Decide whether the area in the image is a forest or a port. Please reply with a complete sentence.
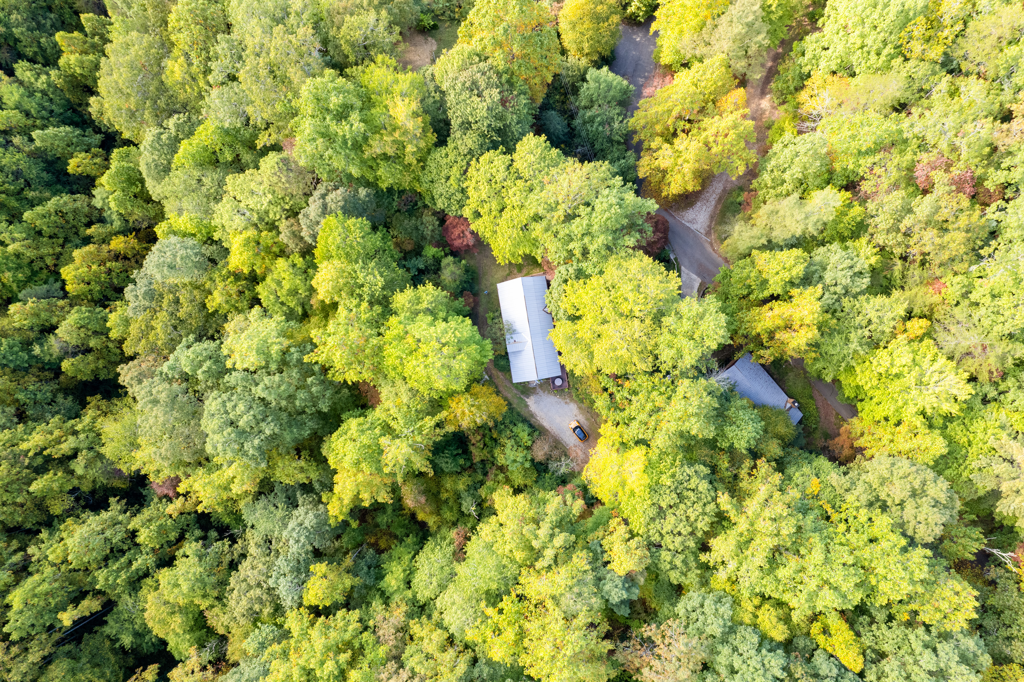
This image shows a forest.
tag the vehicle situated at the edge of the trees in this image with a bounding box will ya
[569,420,588,442]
